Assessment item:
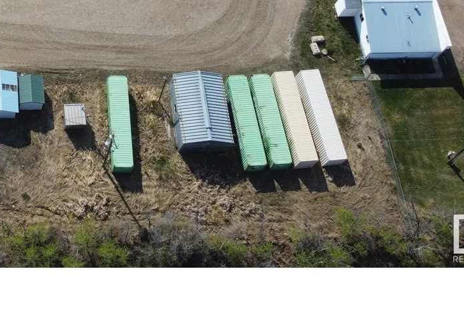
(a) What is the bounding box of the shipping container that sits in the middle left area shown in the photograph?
[106,75,134,174]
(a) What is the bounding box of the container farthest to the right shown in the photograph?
[297,69,347,166]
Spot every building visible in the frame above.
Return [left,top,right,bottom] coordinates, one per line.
[168,69,237,154]
[0,68,19,118]
[20,72,44,110]
[326,0,451,64]
[63,102,86,131]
